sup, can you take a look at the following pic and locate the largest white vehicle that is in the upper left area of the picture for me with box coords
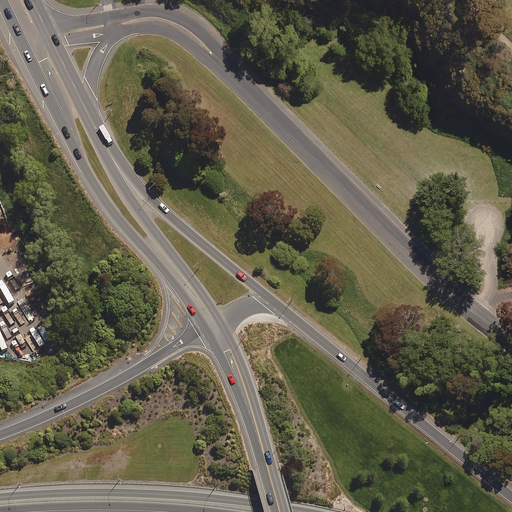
[98,124,114,148]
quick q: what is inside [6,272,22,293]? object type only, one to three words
vehicle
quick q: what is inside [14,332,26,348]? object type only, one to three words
vehicle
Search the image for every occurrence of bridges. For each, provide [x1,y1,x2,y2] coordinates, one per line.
[252,469,294,512]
